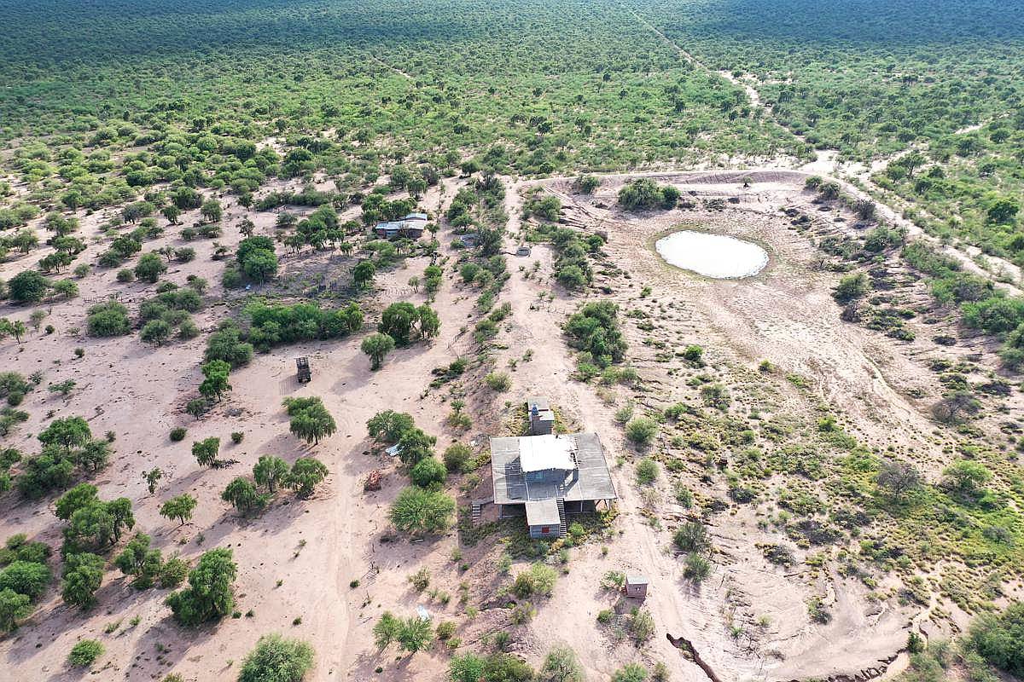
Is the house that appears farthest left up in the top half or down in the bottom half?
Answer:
top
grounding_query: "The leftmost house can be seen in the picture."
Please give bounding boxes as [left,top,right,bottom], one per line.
[376,213,430,241]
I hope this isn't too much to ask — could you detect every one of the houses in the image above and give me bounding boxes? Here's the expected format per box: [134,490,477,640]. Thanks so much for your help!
[472,431,615,536]
[376,213,430,241]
